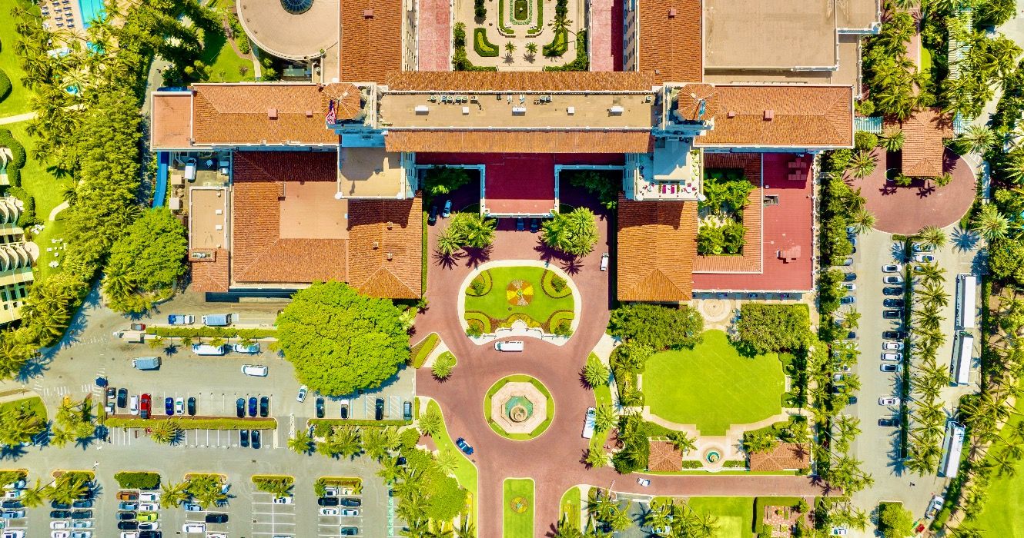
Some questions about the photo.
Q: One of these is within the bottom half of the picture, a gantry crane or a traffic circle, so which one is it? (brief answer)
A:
traffic circle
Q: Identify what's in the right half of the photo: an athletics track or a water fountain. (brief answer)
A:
water fountain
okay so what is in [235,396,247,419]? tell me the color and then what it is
blue vehicle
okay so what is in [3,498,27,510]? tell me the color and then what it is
blue vehicle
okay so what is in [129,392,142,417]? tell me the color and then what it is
white vehicle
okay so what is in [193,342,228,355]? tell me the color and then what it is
white vehicle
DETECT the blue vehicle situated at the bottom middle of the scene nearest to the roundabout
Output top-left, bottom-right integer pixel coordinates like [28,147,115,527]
[455,436,475,454]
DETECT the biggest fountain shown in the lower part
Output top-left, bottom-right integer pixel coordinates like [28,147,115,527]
[491,380,547,436]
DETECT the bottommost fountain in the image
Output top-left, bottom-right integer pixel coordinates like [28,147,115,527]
[701,443,725,467]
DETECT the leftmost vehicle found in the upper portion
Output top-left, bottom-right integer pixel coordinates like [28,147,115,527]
[185,156,201,184]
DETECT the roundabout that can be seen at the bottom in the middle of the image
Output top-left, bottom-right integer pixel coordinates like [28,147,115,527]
[484,373,555,442]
